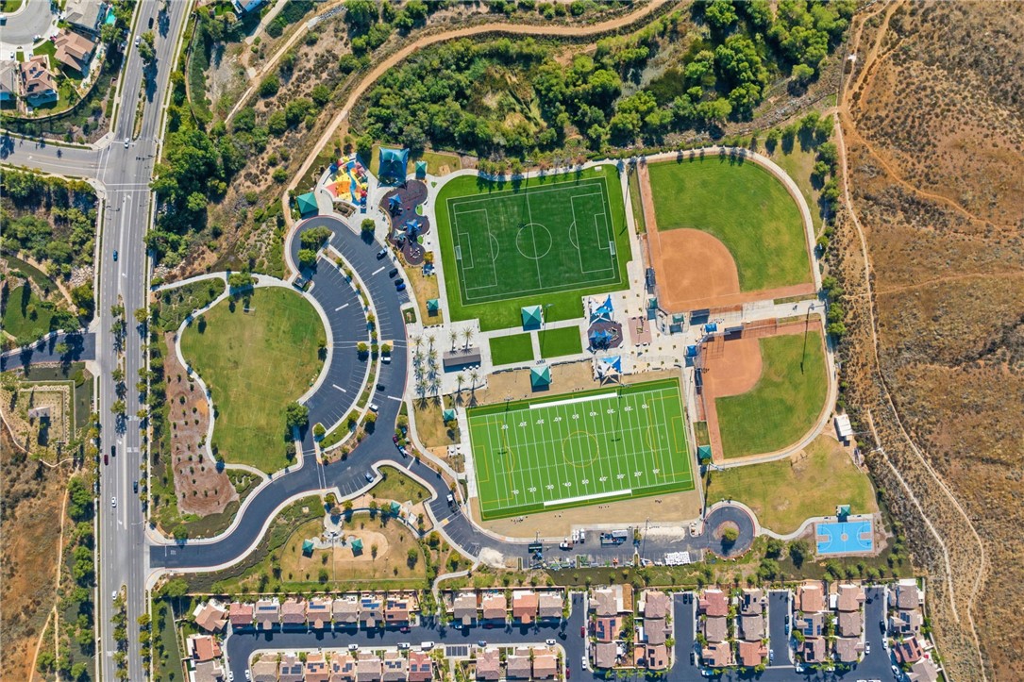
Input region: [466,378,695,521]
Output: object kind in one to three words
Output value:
sports field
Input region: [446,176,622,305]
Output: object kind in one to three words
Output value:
soccer field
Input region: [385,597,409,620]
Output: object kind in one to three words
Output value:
house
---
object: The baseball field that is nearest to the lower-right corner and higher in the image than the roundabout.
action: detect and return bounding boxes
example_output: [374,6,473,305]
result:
[701,315,830,463]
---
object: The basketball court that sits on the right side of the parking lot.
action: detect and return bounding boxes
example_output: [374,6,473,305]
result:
[815,519,875,557]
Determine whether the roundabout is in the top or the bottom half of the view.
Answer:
bottom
